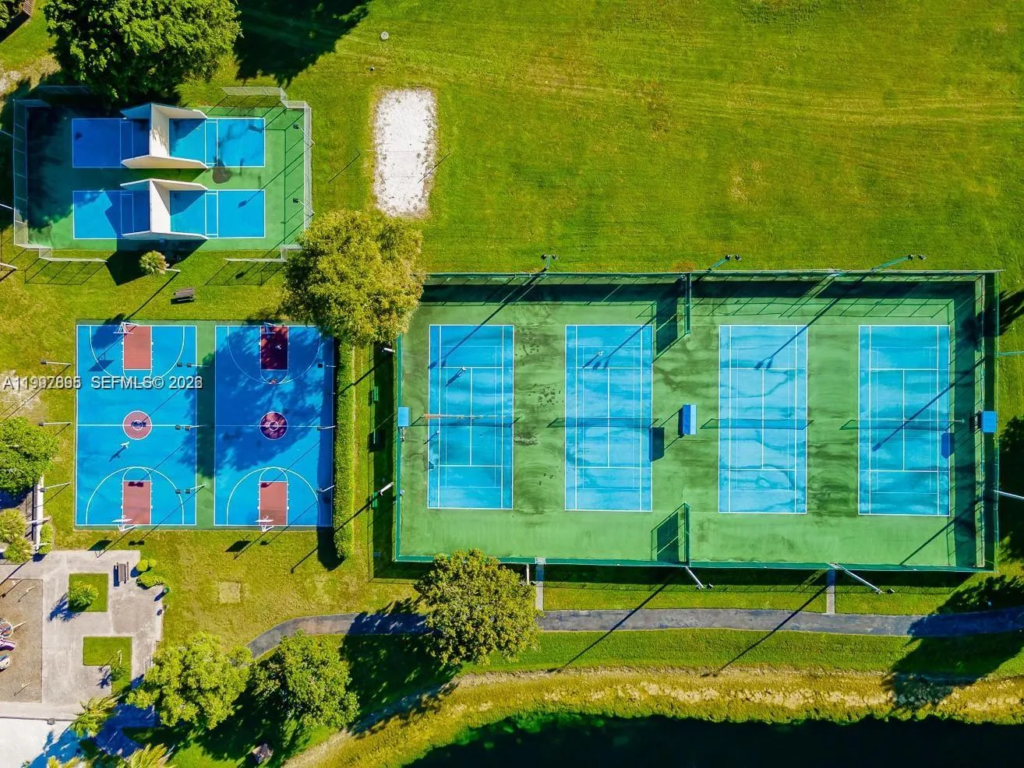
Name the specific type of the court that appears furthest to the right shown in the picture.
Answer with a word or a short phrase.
tennis court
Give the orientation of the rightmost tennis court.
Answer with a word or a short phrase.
from top to bottom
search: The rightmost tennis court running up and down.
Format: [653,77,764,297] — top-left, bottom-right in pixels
[859,325,950,516]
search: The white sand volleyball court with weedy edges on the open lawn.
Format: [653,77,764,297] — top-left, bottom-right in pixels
[372,86,438,217]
